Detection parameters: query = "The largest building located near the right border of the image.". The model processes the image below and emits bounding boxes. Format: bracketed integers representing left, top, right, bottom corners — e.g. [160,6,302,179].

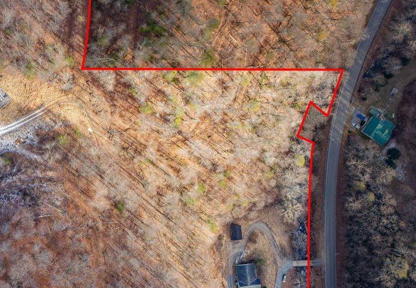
[361,107,395,145]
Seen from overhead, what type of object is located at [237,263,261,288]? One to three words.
house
